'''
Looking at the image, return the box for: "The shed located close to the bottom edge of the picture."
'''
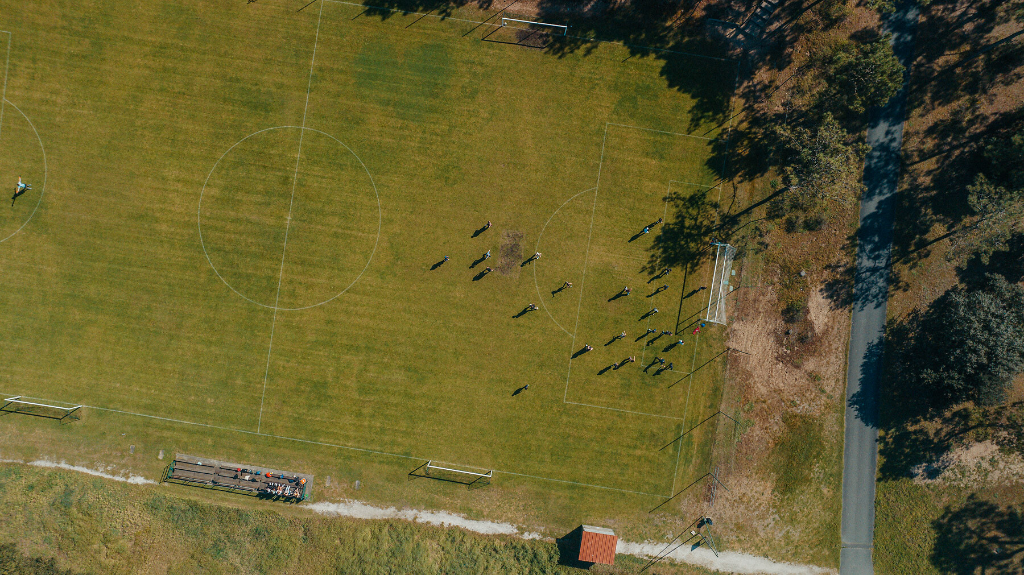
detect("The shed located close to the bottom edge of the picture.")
[578,525,619,566]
